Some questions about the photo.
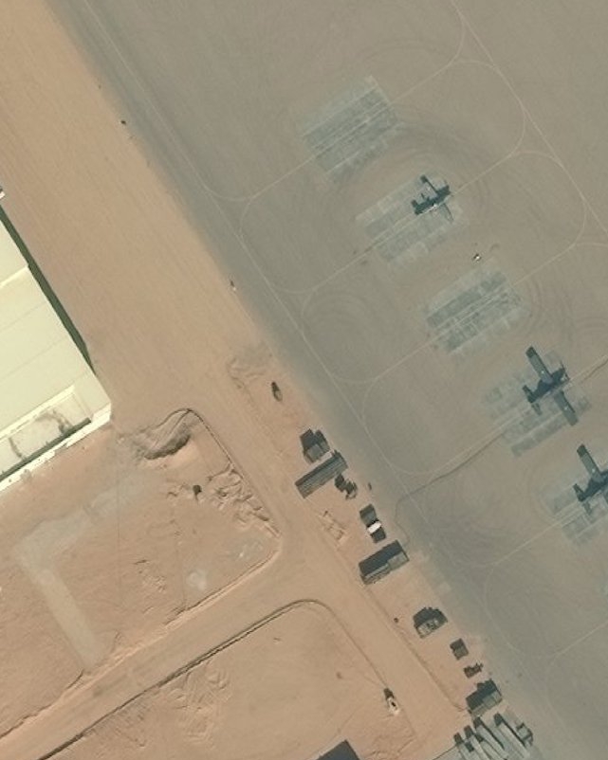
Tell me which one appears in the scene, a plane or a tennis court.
plane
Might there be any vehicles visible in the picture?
Yes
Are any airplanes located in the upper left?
No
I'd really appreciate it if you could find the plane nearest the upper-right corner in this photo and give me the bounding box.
[410,182,453,229]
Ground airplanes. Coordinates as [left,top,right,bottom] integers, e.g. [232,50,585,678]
[410,182,453,229]
[574,454,608,513]
[524,356,577,423]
